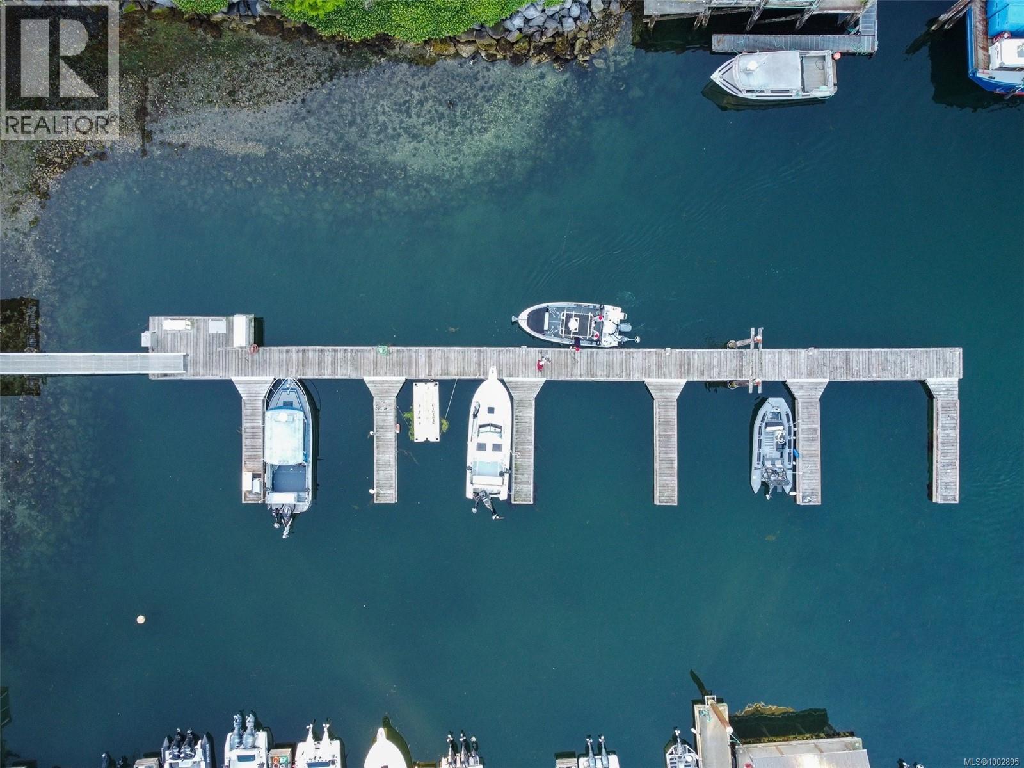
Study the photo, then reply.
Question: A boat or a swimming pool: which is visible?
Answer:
boat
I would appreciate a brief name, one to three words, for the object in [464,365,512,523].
boat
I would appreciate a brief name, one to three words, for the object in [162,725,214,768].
boat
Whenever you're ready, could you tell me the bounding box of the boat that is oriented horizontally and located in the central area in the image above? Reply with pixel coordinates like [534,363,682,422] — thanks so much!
[511,302,637,347]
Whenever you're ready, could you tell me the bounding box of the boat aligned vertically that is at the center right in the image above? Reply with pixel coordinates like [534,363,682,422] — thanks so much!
[752,397,793,497]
